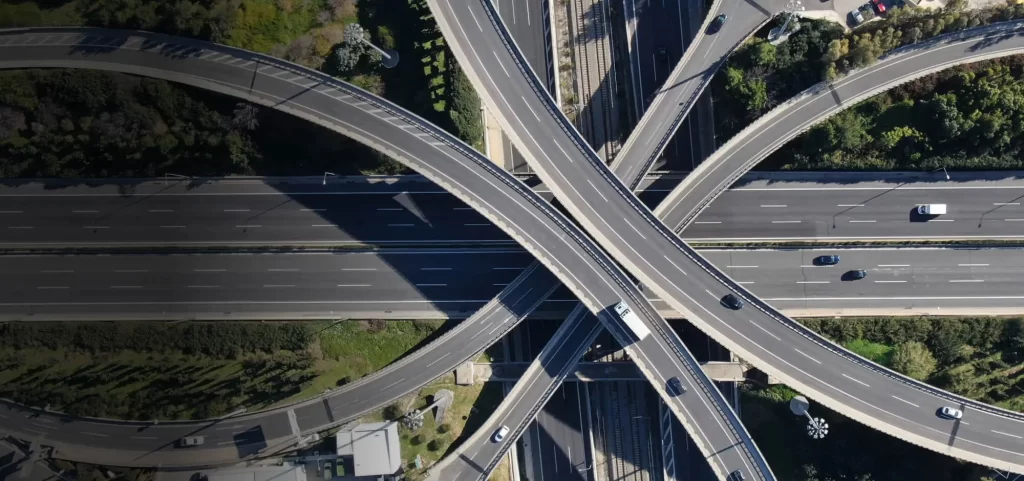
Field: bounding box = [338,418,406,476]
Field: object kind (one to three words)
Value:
building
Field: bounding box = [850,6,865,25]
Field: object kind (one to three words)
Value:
car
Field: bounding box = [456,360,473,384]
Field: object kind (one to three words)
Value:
shed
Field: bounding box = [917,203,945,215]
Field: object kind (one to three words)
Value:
vehicle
